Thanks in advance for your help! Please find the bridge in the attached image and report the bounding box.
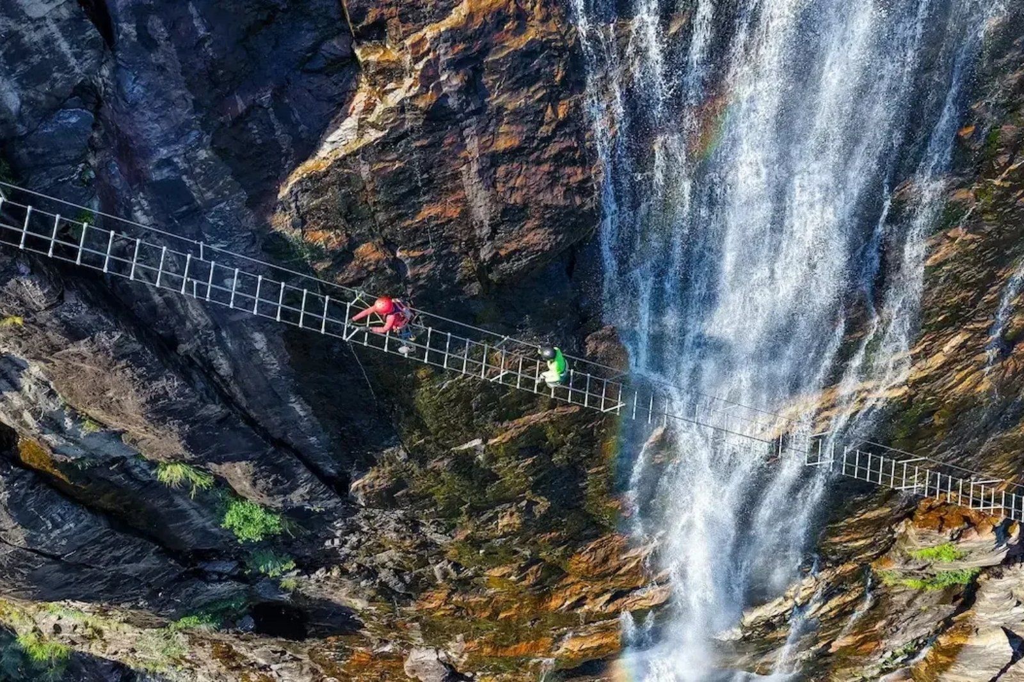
[0,182,1024,523]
